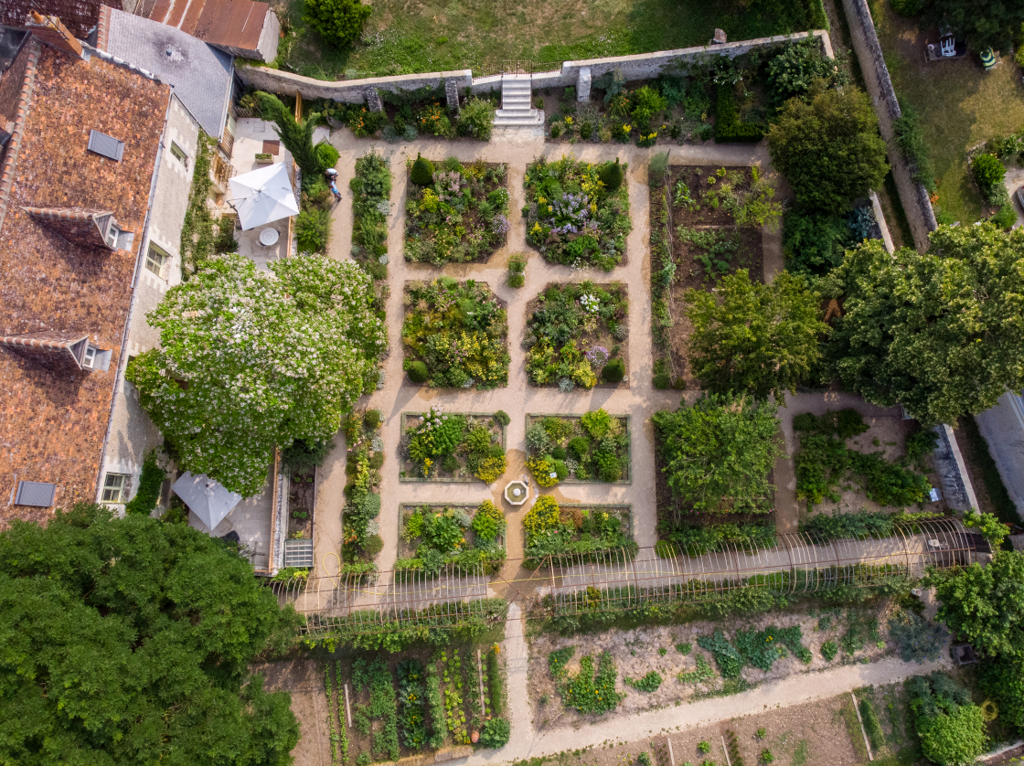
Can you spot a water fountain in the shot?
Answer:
Yes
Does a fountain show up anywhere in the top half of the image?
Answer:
No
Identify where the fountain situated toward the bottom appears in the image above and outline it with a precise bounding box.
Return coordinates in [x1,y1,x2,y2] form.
[504,480,529,505]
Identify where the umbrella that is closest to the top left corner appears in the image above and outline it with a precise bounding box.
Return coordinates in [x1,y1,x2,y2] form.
[217,162,300,232]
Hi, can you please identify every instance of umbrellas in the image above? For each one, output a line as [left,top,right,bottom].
[217,162,300,232]
[156,467,243,530]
